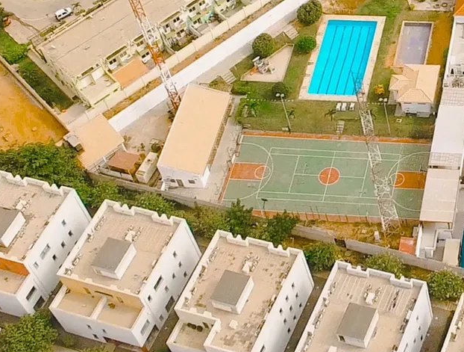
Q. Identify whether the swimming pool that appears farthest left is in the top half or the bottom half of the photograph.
top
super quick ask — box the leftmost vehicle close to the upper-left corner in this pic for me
[0,15,17,30]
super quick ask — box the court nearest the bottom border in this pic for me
[222,134,434,216]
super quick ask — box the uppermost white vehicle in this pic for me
[49,7,77,22]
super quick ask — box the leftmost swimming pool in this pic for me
[304,17,380,97]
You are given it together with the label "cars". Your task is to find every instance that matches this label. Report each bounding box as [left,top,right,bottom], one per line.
[49,7,77,22]
[0,15,17,30]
